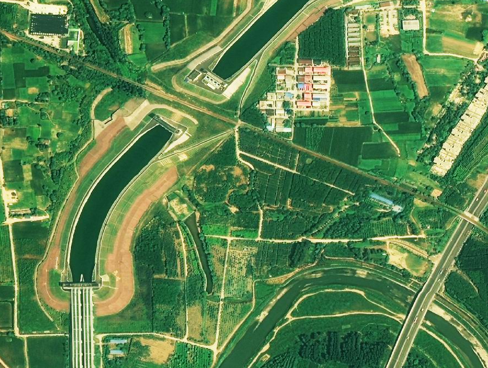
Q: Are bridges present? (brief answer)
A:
Yes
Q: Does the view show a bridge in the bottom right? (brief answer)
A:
Yes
